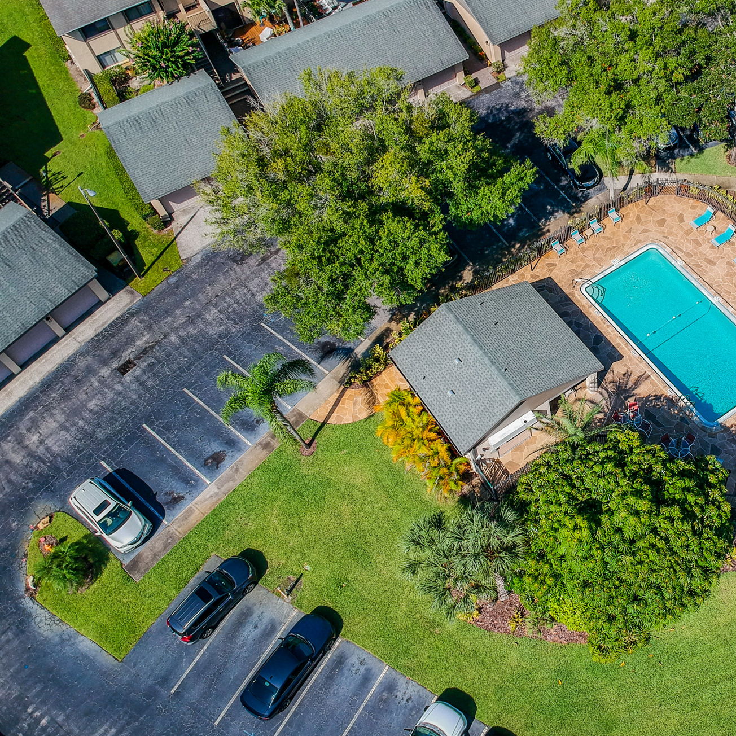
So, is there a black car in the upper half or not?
Yes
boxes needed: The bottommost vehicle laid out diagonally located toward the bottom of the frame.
[245,613,341,722]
